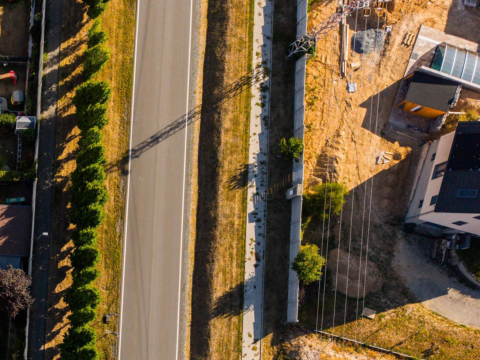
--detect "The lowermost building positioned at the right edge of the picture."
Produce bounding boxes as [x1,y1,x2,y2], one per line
[389,120,480,240]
